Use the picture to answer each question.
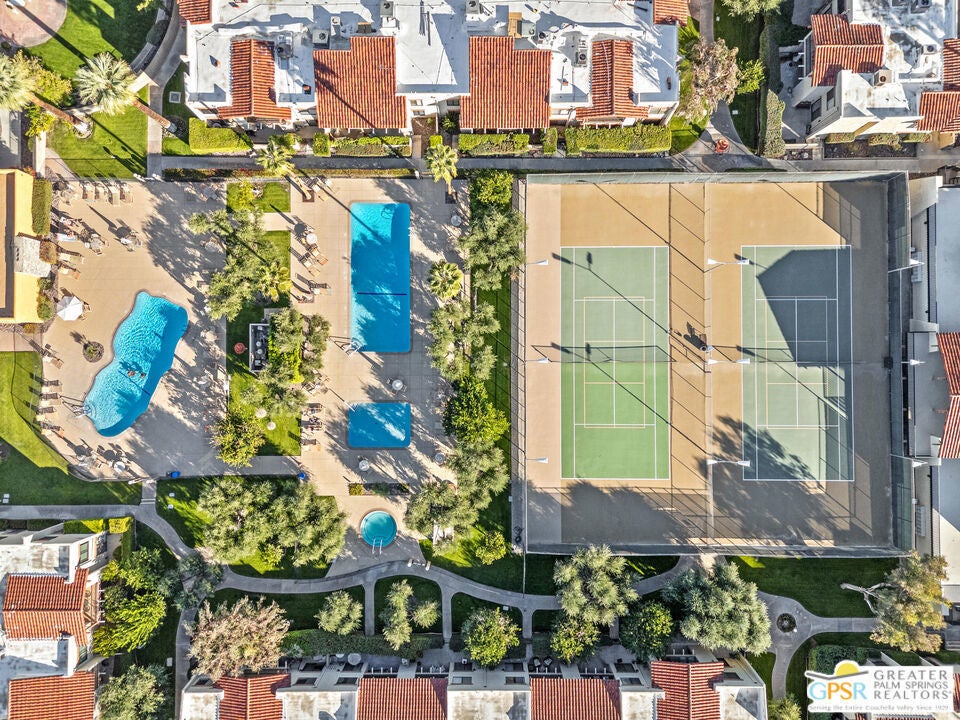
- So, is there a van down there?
No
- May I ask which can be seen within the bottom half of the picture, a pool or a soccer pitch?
pool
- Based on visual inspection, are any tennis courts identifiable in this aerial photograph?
Yes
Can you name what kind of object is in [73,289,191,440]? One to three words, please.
swimming pool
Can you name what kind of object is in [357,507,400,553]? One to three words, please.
swimming pool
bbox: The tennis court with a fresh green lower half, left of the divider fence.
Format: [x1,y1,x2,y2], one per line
[548,246,681,480]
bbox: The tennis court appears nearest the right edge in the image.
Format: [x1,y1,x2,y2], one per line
[733,246,869,481]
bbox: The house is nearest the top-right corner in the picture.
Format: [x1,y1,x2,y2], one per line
[785,0,960,158]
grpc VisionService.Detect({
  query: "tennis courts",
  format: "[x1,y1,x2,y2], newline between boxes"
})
[733,246,869,481]
[548,246,681,480]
